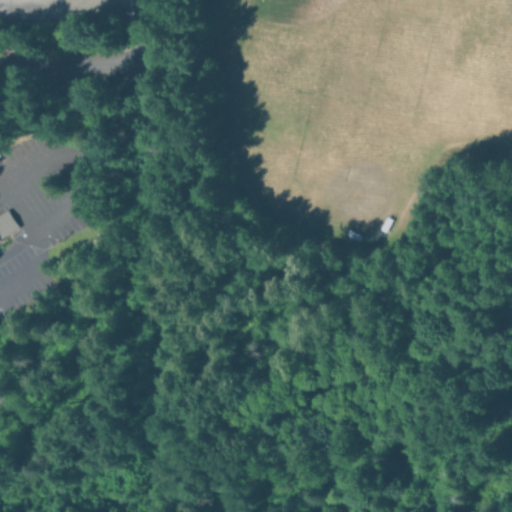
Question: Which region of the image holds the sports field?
top right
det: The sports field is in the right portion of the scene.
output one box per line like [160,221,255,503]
[236,0,512,249]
